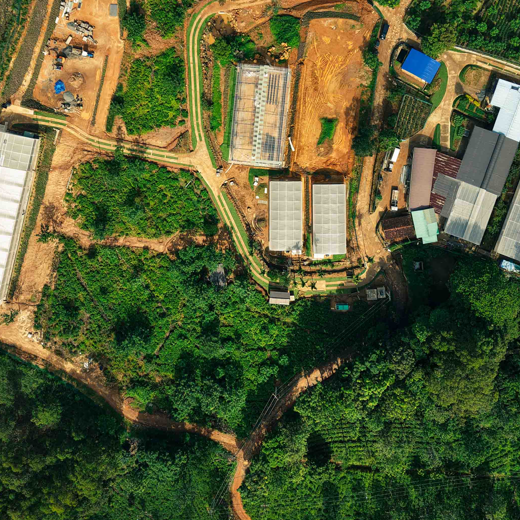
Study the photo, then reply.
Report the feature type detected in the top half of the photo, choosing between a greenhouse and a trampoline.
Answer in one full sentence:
It is a greenhouse that can be seen in the top half of the photo.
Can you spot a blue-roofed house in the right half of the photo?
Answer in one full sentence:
Yes, I can see a blue-roofed house in the right half of the photo.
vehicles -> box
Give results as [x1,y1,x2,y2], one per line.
[381,24,389,40]
[388,148,401,170]
[391,189,399,211]
[71,48,95,57]
[55,56,69,63]
[52,64,64,70]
